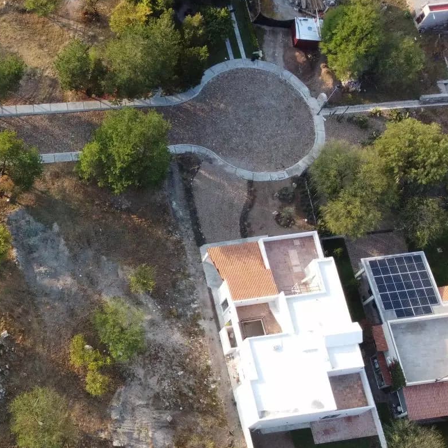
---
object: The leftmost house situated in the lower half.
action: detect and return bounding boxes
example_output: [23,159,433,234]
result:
[199,231,374,435]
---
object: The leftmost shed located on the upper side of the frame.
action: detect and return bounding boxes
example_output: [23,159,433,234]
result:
[289,9,324,53]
